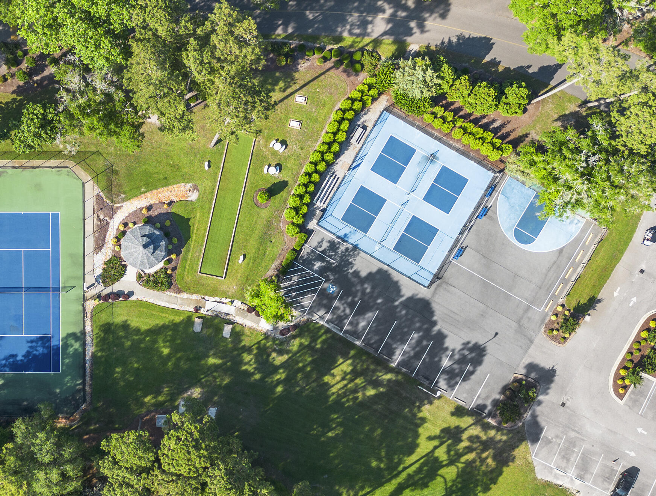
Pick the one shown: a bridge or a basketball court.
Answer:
basketball court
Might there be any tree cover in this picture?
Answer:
Yes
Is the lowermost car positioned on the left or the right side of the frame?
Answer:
right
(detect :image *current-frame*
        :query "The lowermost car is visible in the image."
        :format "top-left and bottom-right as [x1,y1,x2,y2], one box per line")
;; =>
[611,473,636,496]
